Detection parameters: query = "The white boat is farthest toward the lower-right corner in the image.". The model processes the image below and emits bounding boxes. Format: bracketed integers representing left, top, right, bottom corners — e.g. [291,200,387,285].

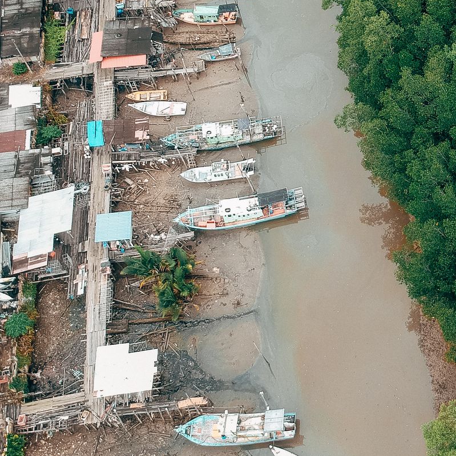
[267,442,301,456]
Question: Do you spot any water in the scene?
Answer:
Yes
